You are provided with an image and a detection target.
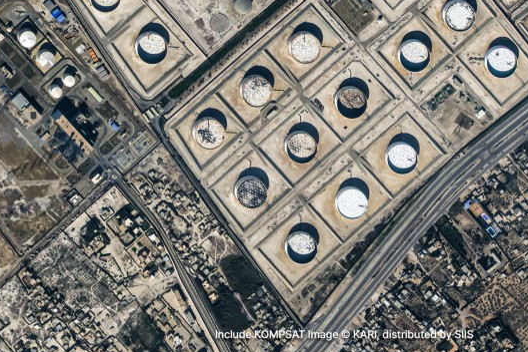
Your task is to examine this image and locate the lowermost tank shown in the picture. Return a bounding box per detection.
[284,217,317,264]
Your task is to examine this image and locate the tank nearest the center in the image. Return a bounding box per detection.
[234,161,268,209]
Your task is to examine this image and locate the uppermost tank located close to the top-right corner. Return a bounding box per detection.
[442,0,476,41]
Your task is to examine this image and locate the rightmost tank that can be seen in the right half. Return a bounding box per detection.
[472,43,519,77]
